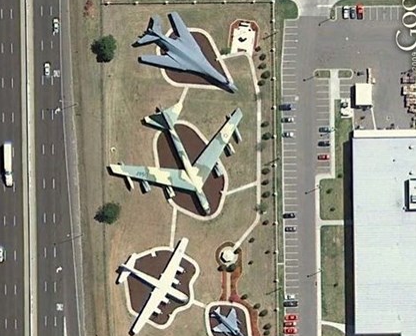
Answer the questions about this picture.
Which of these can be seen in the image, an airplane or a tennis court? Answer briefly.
airplane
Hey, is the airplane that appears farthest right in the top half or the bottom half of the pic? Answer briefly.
bottom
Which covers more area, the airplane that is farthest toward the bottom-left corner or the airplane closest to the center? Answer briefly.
the airplane closest to the center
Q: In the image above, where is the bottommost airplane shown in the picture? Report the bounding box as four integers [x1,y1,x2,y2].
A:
[206,306,242,336]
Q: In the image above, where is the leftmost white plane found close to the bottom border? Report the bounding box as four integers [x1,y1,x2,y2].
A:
[120,235,190,334]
